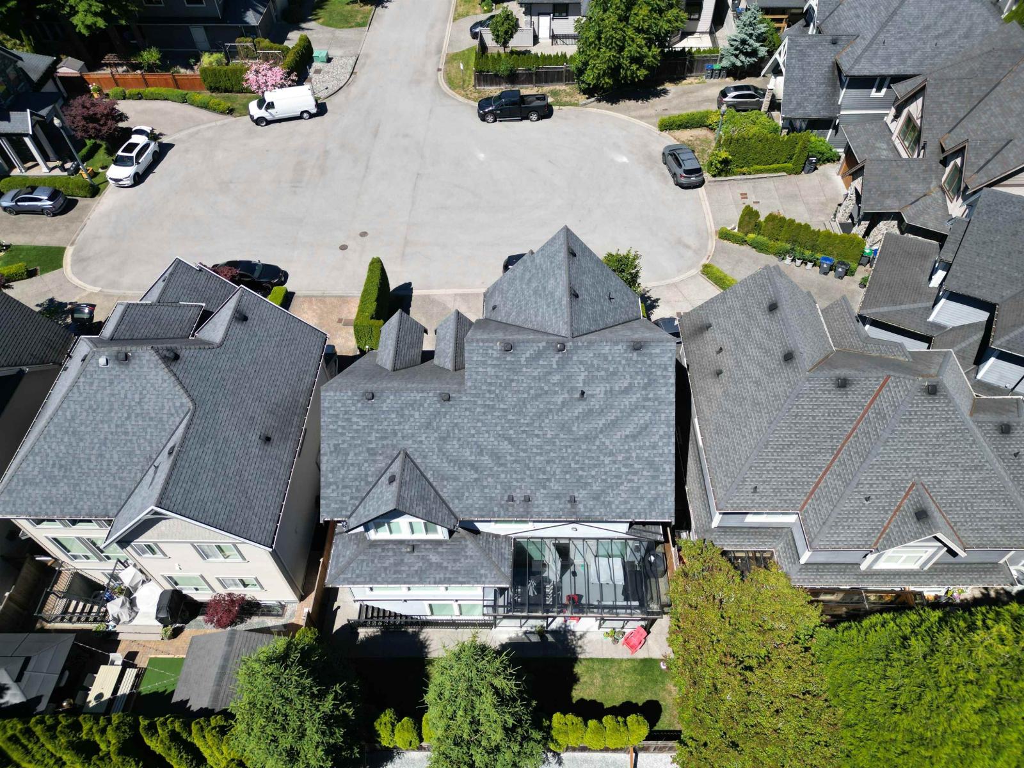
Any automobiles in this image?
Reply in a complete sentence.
Yes, an automobile can be made out from above.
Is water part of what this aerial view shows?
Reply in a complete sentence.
No, there's no water in this view.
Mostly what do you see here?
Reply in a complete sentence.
For the most part, this view shows buildings.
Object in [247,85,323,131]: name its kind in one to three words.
van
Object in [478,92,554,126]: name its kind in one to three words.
truck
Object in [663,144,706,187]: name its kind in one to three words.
car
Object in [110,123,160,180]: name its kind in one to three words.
car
